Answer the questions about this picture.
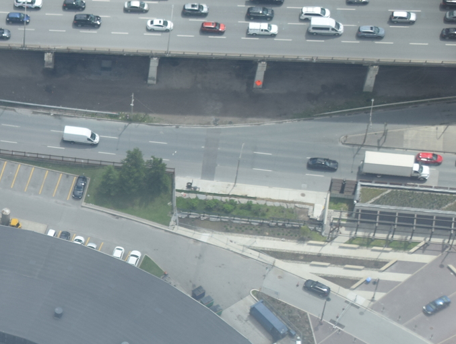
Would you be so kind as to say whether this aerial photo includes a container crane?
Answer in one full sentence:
No, the scene contains no container crane.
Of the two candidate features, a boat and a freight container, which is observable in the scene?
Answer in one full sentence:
The image shows a freight container.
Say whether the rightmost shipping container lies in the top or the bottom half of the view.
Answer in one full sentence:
The bottom half of the photo is where the rightmost shipping container is.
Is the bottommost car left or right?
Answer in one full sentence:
The bottommost car appears in the right half of the scene.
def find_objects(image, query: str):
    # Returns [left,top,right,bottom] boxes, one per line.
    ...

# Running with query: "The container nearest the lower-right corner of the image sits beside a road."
[244,293,290,340]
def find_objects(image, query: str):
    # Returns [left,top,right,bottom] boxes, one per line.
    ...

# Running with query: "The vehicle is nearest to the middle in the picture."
[308,157,336,171]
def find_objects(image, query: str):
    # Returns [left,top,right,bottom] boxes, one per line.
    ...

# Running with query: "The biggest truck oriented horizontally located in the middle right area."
[362,151,426,179]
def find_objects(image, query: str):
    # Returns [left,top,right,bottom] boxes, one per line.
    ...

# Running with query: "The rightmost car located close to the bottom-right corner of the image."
[422,294,451,314]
